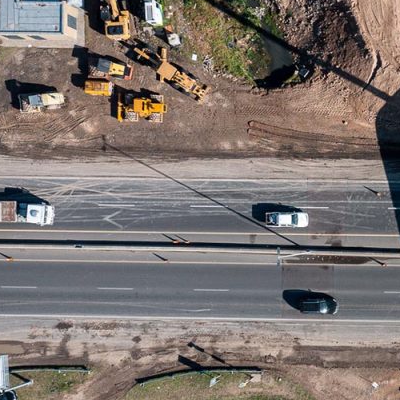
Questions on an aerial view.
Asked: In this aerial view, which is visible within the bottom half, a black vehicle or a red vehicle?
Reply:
black vehicle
